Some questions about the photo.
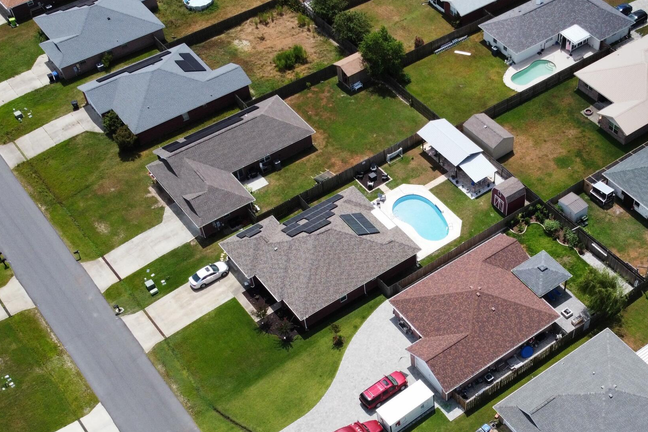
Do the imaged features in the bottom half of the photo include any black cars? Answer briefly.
No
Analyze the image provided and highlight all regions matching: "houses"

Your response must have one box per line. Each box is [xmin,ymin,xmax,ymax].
[218,185,419,330]
[574,34,648,147]
[493,327,648,432]
[428,0,519,29]
[603,146,648,222]
[33,0,165,82]
[147,94,316,239]
[387,232,561,402]
[478,0,635,66]
[78,42,252,147]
